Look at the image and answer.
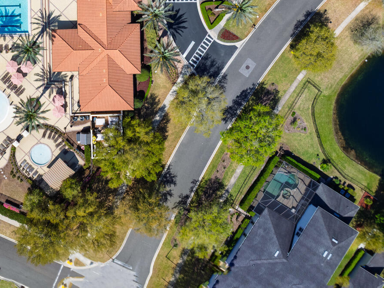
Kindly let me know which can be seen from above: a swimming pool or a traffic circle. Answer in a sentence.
It is a swimming pool that can be seen here.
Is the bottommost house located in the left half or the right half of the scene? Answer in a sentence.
It is on the right.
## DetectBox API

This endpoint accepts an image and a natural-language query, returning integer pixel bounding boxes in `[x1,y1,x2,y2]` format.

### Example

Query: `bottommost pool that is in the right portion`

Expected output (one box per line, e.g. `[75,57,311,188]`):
[264,172,301,201]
